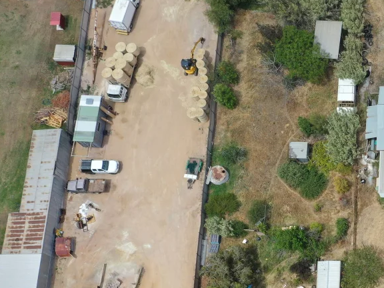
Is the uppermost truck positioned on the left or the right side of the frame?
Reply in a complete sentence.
The uppermost truck appears in the left half of the scene.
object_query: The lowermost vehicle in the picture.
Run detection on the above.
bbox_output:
[64,176,108,194]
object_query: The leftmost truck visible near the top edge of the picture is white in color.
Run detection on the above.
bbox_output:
[109,0,142,37]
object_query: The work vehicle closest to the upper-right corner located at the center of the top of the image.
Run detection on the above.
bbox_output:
[183,36,206,83]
